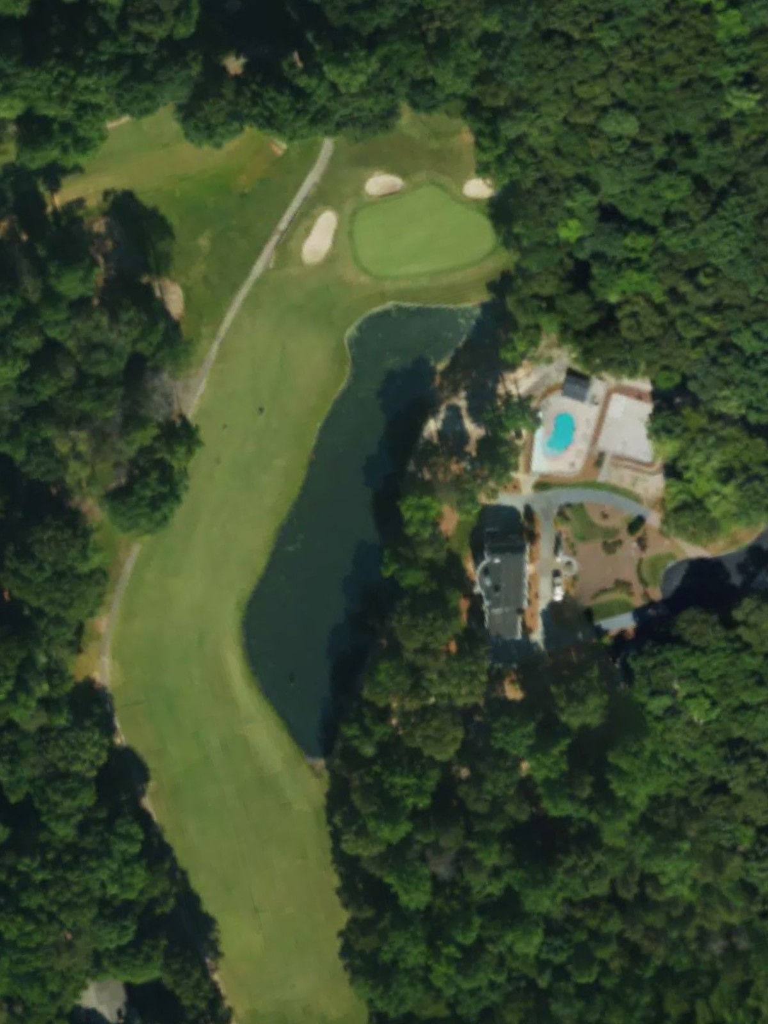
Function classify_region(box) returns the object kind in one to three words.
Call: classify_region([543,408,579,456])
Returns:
swimming pool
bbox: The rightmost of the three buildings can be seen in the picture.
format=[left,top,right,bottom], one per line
[562,369,589,401]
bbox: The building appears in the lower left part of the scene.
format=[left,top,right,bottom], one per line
[81,981,125,1024]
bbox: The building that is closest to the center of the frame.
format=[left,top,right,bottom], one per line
[474,526,535,639]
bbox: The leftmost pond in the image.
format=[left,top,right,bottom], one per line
[244,305,482,759]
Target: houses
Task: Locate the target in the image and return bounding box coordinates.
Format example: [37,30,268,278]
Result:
[81,981,125,1024]
[474,526,535,639]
